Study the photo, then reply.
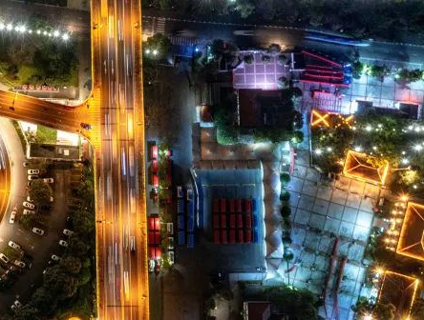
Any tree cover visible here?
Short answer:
Yes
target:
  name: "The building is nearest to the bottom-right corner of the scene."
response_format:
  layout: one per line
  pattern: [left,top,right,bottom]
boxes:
[366,271,420,320]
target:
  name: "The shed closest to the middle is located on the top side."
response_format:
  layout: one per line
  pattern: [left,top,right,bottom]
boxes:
[193,106,213,128]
